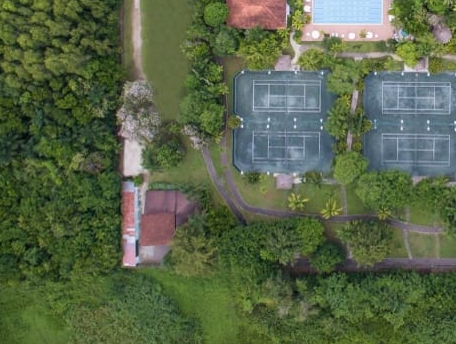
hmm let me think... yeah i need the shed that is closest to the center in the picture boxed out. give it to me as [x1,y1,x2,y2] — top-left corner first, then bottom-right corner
[273,173,300,189]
